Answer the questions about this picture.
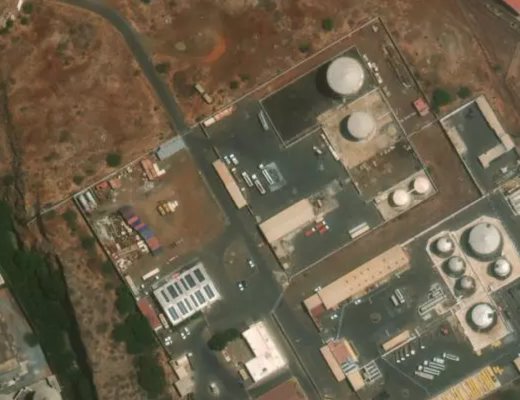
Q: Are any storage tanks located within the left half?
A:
No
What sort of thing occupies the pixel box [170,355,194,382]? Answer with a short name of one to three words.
house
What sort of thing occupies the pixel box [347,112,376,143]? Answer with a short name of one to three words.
storage tank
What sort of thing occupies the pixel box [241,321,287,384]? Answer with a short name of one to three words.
building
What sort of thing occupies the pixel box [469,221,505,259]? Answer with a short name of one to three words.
storage tank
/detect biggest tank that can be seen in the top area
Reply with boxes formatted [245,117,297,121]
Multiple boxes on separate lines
[327,57,367,97]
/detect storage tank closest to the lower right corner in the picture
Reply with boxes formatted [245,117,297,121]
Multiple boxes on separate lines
[468,303,498,332]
